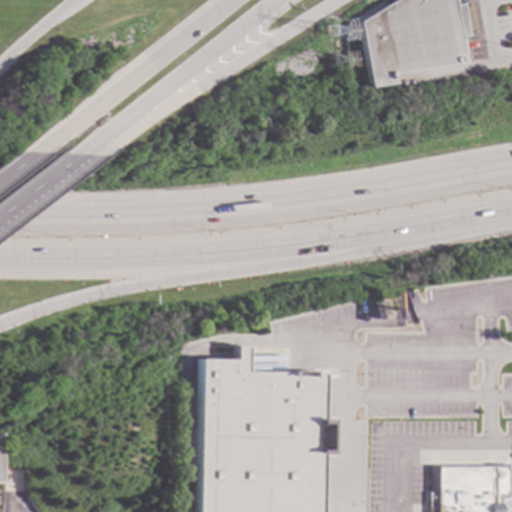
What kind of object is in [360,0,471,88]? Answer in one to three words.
building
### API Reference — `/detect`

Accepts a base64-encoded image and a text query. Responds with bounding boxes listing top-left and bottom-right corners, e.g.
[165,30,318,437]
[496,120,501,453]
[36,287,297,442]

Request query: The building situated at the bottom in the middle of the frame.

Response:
[196,344,344,512]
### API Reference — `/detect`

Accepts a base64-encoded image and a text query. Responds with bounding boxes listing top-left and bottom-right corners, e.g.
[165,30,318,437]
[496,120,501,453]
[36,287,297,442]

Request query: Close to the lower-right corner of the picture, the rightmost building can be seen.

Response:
[436,462,512,512]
